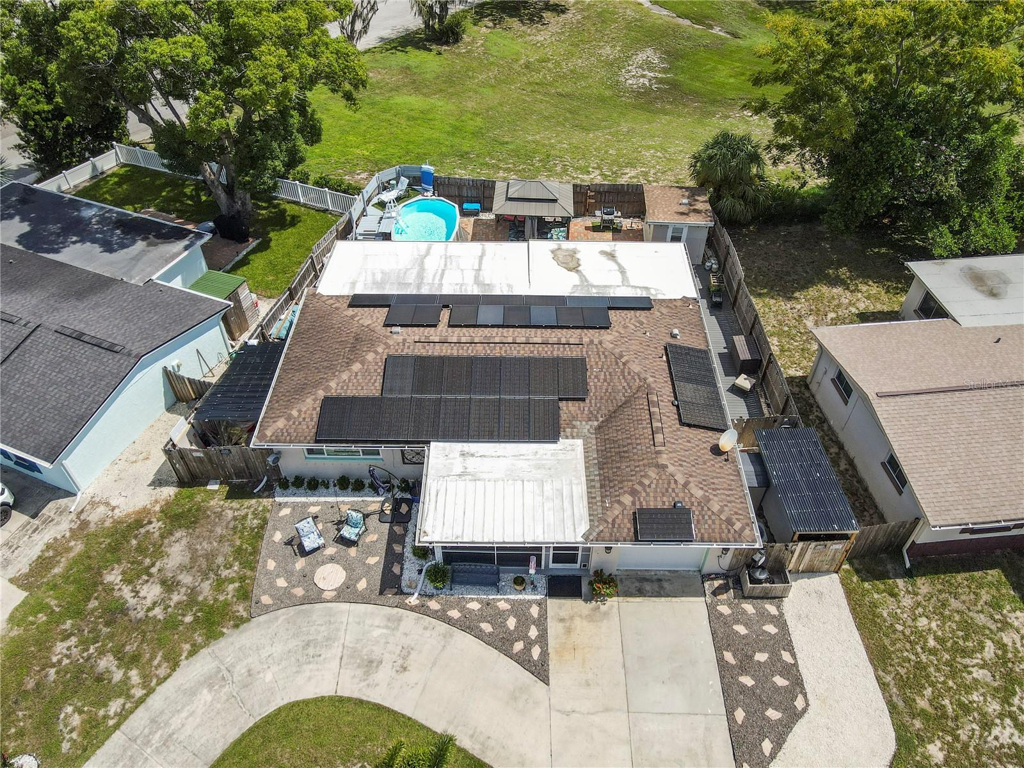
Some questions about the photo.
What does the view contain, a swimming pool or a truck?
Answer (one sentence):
The image shows a swimming pool.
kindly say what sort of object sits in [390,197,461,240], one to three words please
swimming pool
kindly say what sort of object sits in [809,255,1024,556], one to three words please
house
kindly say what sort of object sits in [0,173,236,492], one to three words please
house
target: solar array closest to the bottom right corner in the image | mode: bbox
[636,509,696,542]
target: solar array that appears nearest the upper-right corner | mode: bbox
[663,338,728,429]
